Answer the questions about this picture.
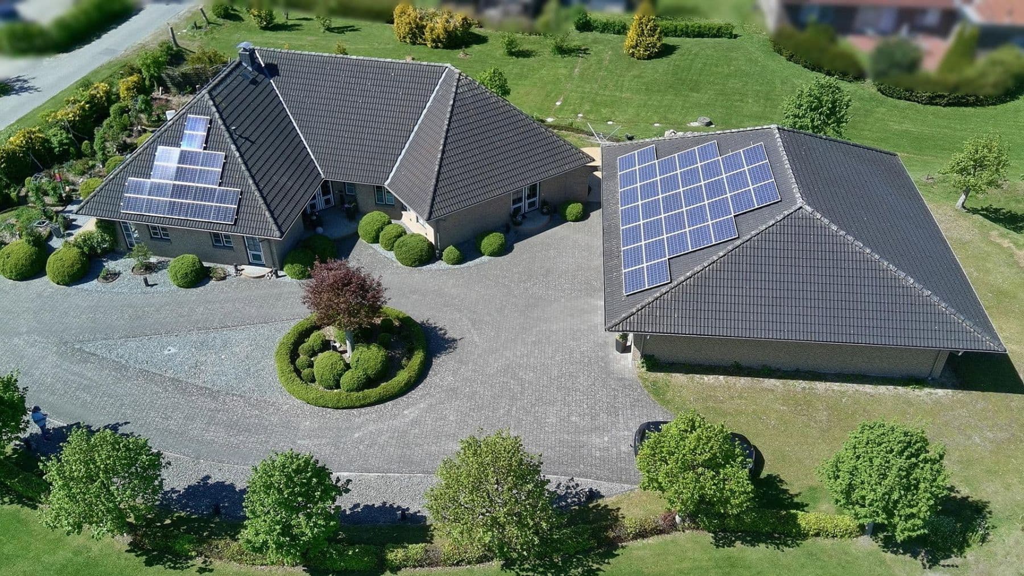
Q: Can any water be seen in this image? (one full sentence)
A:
No, there is no water in the image.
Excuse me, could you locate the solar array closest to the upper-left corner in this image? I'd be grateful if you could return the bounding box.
[120,115,242,224]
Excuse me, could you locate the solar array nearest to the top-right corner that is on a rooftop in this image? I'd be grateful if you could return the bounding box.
[618,141,780,295]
